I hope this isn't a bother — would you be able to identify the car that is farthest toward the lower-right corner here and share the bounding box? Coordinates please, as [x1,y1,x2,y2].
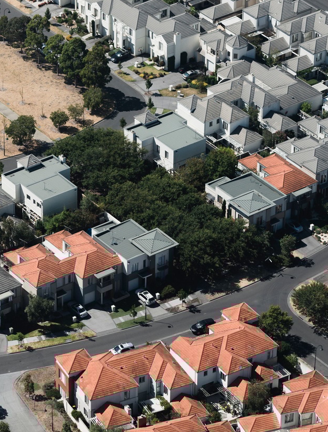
[189,314,217,330]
